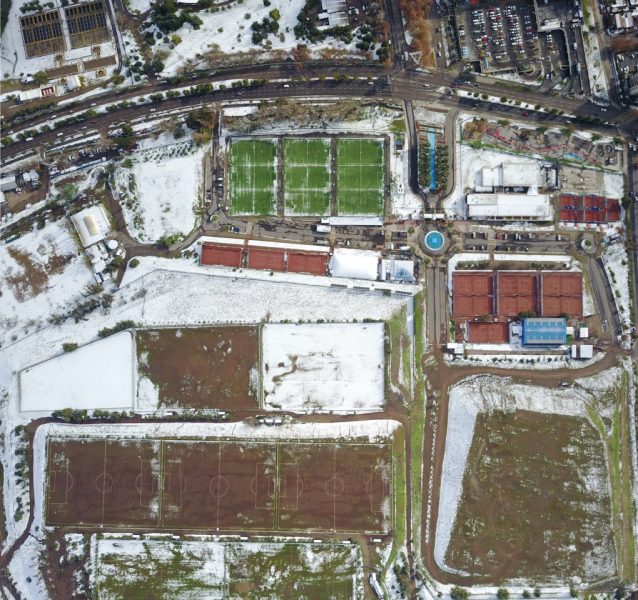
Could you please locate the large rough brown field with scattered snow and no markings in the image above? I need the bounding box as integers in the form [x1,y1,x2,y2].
[445,409,616,584]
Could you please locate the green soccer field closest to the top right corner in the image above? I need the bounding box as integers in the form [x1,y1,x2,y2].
[336,139,386,216]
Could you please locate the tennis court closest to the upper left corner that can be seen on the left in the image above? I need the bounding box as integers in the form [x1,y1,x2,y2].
[200,245,242,267]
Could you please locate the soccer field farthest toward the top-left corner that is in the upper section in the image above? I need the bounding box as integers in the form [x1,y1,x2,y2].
[229,138,279,216]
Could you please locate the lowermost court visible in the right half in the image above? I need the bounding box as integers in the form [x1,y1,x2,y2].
[468,321,508,343]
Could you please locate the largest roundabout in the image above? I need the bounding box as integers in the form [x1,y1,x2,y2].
[400,219,452,266]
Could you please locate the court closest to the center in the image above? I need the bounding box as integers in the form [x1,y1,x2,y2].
[288,253,328,276]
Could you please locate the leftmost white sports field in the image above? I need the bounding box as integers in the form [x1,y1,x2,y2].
[19,333,133,411]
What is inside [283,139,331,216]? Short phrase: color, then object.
green soccer field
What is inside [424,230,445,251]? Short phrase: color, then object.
blue fountain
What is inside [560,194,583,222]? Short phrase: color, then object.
red tennis court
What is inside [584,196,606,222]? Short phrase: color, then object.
red tennis court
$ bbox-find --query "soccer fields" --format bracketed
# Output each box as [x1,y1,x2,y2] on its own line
[275,441,394,533]
[227,543,363,600]
[336,139,386,216]
[92,541,226,600]
[264,323,384,412]
[283,139,331,216]
[45,439,161,528]
[136,325,259,411]
[160,439,276,531]
[229,138,279,216]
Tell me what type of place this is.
sports ground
